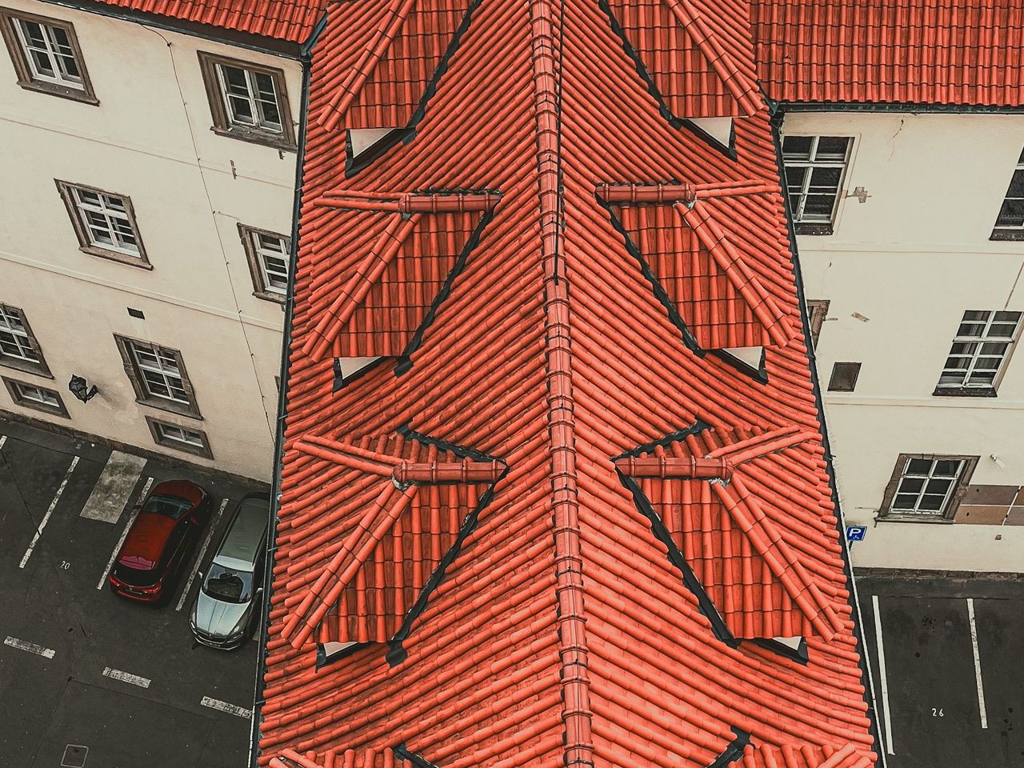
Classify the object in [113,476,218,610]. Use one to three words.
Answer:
car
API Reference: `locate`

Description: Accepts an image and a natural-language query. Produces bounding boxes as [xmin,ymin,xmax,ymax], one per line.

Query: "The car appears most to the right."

[191,504,269,659]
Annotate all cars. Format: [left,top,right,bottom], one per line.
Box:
[113,476,218,610]
[191,504,269,659]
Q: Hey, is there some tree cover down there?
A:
No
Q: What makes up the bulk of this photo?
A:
buildings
